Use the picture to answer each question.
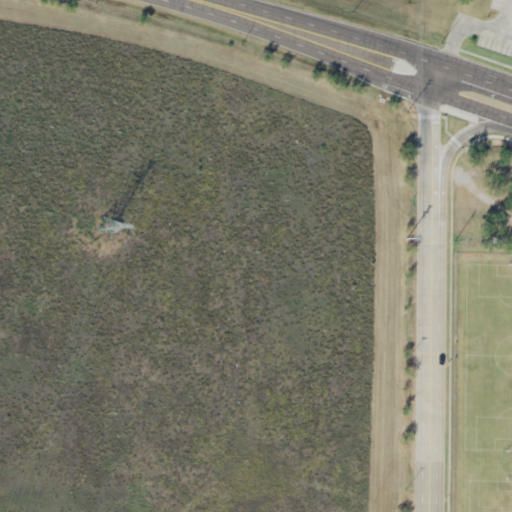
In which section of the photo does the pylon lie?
left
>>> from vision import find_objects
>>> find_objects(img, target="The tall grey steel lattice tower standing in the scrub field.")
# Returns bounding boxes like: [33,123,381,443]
[98,216,136,236]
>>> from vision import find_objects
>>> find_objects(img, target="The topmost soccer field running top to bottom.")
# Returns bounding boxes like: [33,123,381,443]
[462,262,512,454]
